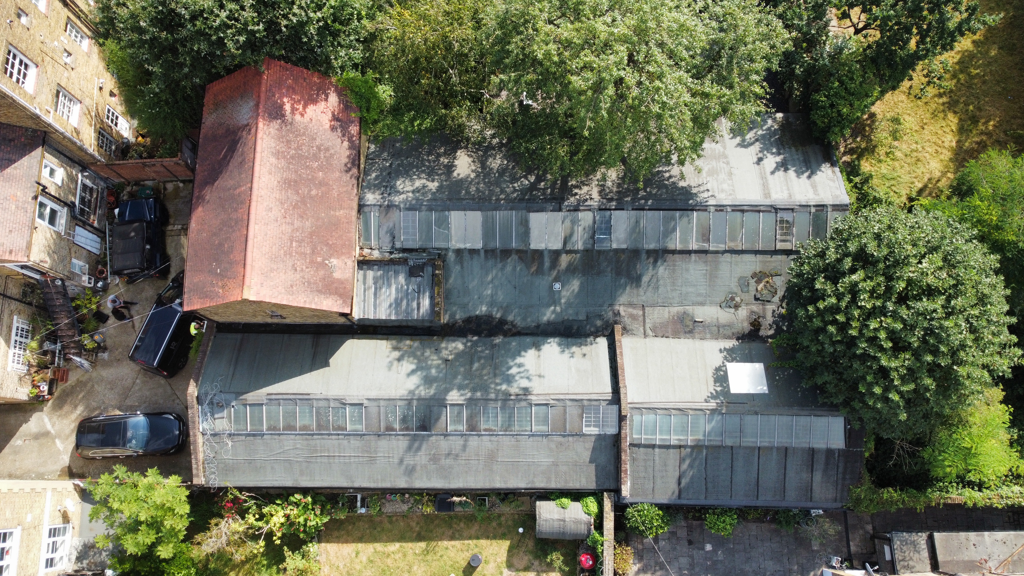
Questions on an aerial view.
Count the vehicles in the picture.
3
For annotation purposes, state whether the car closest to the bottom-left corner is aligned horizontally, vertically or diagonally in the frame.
horizontally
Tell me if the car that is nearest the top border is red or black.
black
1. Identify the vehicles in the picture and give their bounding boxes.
[71,410,189,461]
[112,201,173,291]
[126,260,206,377]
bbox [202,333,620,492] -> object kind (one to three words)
building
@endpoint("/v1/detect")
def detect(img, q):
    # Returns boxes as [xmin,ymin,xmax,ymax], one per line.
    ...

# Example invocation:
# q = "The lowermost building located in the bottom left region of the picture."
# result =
[0,481,85,576]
